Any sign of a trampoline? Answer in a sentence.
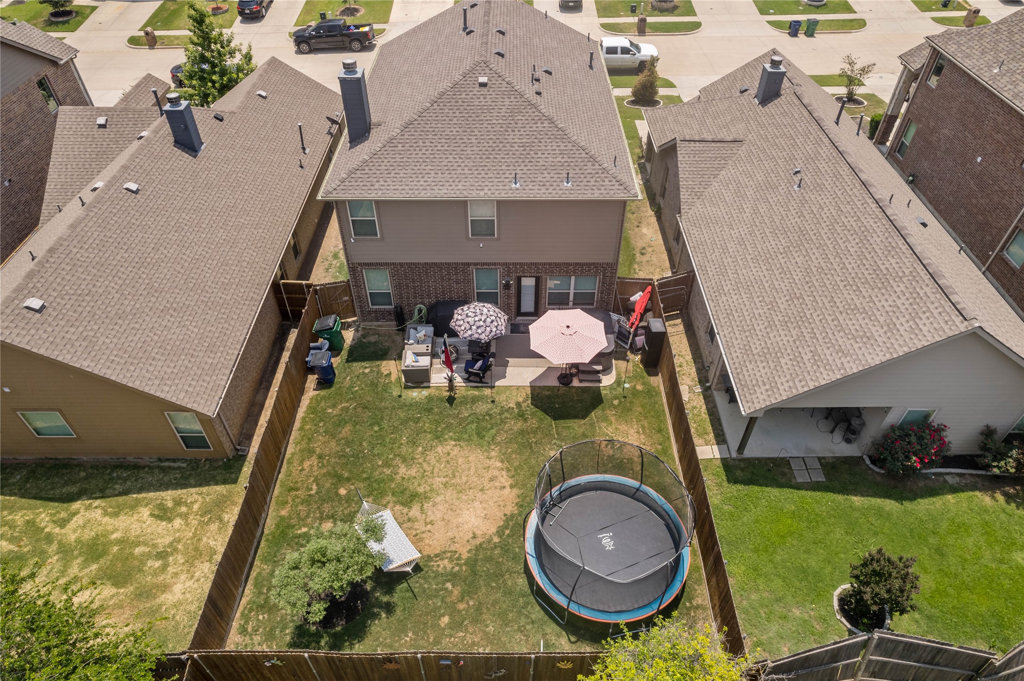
Yes, the picture does show a trampoline.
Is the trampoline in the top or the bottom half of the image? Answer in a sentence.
Seen from above, the trampoline lies in the bottom half of the view.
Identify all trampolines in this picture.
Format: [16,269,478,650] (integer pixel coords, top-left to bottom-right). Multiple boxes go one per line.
[522,444,698,636]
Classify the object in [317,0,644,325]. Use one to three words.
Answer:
house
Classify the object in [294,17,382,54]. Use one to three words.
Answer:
truck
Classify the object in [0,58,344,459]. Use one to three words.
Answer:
house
